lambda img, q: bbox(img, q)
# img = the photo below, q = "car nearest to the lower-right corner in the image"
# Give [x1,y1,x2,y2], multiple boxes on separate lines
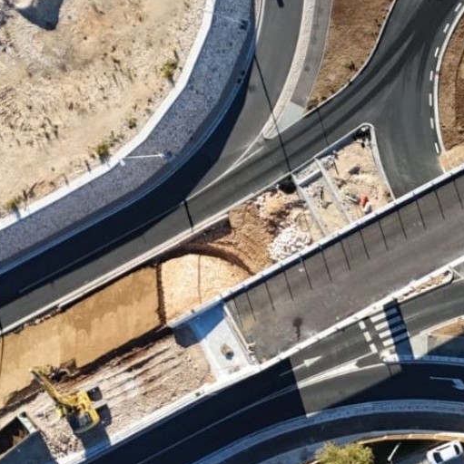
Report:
[425,440,463,464]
